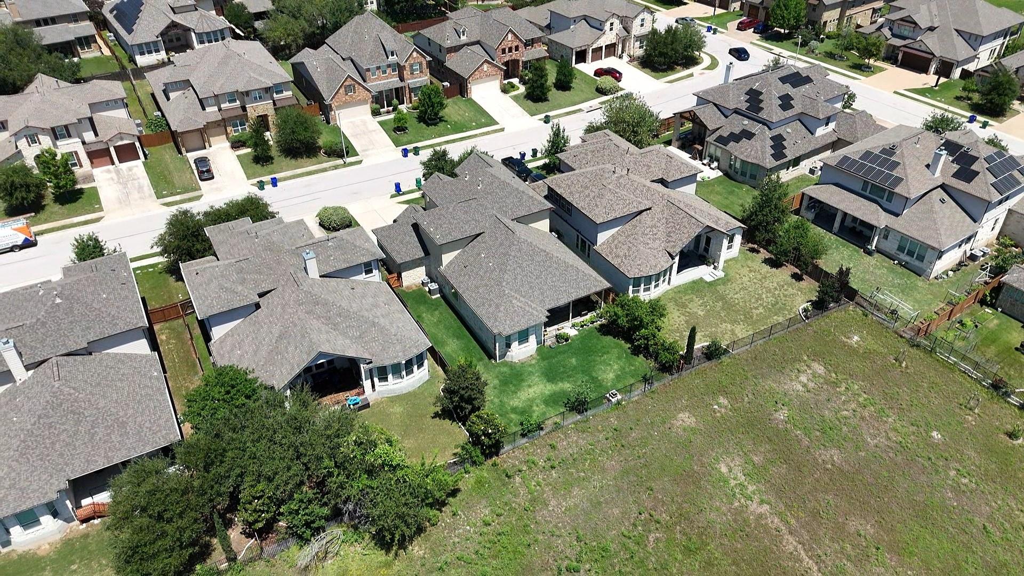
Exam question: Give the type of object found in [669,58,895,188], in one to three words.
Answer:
house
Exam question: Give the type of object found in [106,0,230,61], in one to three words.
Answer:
house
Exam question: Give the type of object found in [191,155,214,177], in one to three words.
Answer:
car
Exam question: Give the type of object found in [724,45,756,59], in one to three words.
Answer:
car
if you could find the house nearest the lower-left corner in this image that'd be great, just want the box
[0,250,184,550]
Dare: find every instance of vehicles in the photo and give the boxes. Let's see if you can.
[590,63,623,77]
[0,214,45,250]
[750,19,777,32]
[191,155,214,177]
[524,164,549,183]
[724,45,756,59]
[735,15,759,30]
[672,13,700,23]
[499,150,532,177]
